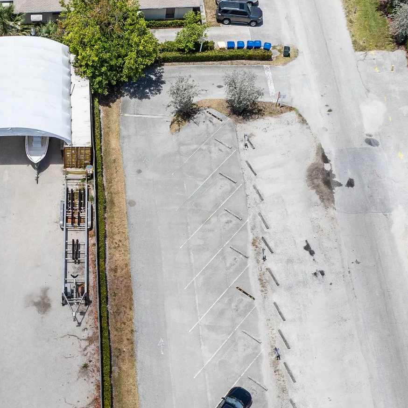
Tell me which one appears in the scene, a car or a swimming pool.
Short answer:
car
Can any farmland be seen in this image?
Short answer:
No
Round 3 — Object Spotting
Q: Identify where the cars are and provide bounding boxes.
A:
[219,386,255,408]
[214,0,258,9]
[217,2,262,30]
